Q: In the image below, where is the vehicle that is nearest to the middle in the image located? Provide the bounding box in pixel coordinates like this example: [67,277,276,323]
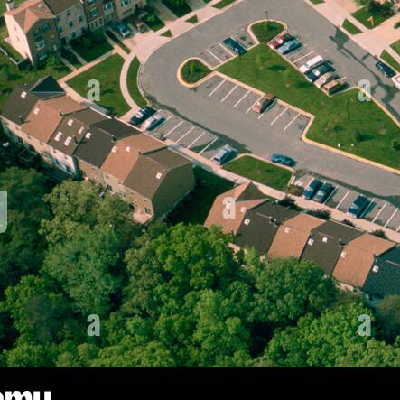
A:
[212,142,237,163]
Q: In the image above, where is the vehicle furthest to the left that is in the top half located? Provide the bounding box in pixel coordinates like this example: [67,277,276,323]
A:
[111,16,131,36]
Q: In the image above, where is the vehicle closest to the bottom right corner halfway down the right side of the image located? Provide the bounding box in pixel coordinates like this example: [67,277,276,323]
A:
[347,193,369,214]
